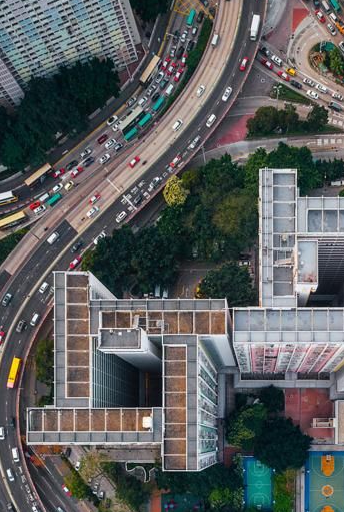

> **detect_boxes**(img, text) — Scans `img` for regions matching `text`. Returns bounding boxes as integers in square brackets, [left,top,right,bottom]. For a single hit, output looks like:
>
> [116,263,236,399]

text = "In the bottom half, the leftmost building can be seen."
[26,270,236,471]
